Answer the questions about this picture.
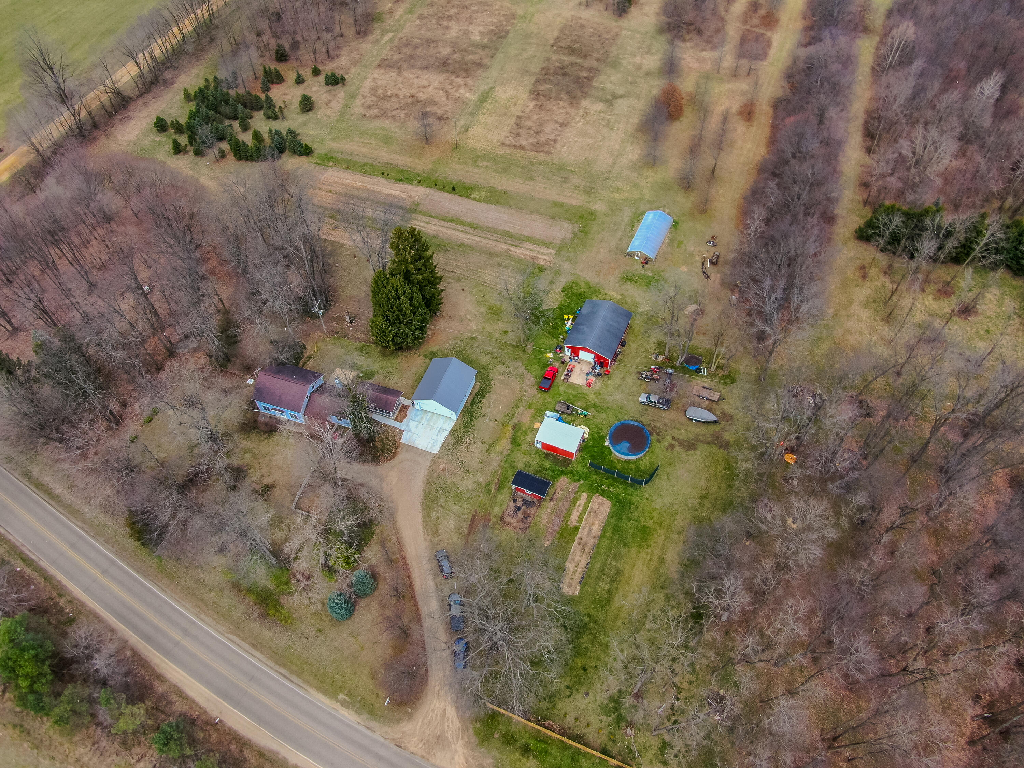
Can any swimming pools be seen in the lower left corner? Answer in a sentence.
No, no swimming pool can be made out in the lower left corner.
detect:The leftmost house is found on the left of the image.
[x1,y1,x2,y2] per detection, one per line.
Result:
[252,361,403,440]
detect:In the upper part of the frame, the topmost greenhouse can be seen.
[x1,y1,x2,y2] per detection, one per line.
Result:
[626,211,672,265]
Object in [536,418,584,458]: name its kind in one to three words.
shed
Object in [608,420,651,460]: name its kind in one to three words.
swimming pool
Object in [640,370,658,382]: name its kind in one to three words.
vehicle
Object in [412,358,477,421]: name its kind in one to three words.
building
